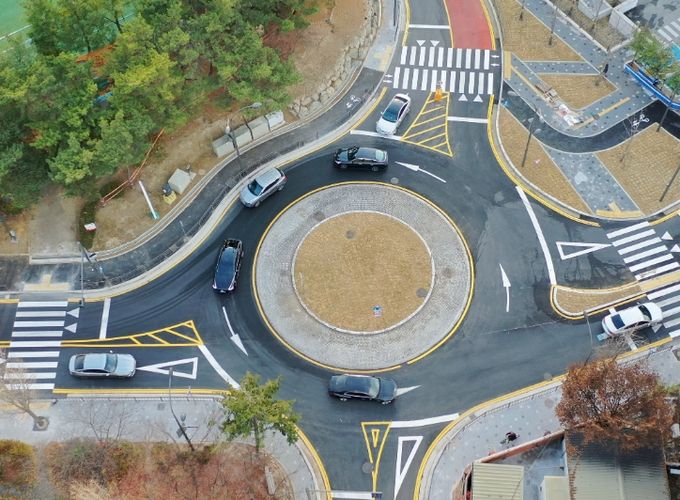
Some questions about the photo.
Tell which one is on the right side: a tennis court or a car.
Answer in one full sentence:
What appears on the right side is a car.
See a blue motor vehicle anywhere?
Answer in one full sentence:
Yes, there's a blue motor vehicle down there.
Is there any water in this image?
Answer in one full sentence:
No, water can't be seen anywhere here.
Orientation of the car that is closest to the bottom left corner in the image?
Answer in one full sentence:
I'd say the car that is closest to the bottom left corner is aligned from left to right in the picture.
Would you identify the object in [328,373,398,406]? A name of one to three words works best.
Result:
car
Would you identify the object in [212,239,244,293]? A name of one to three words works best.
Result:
car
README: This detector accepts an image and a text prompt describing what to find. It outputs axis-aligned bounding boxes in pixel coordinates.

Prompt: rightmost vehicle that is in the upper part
[378,94,410,136]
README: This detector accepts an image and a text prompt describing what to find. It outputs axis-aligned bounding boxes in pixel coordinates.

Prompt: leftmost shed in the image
[466,463,525,500]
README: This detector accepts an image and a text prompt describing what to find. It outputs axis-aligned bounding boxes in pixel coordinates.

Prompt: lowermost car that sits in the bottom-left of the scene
[67,350,137,381]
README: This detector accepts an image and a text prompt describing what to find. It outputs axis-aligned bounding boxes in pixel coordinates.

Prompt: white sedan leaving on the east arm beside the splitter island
[600,303,664,339]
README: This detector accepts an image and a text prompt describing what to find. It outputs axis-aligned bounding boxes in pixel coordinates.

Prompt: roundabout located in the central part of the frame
[222,162,512,396]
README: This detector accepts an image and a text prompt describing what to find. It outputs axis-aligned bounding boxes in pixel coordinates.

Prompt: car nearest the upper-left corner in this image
[239,171,289,209]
